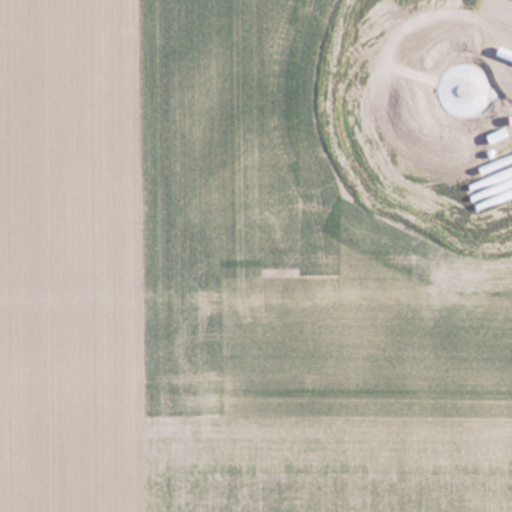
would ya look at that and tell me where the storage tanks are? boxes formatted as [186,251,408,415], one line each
[438,64,498,118]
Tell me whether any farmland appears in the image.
Yes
